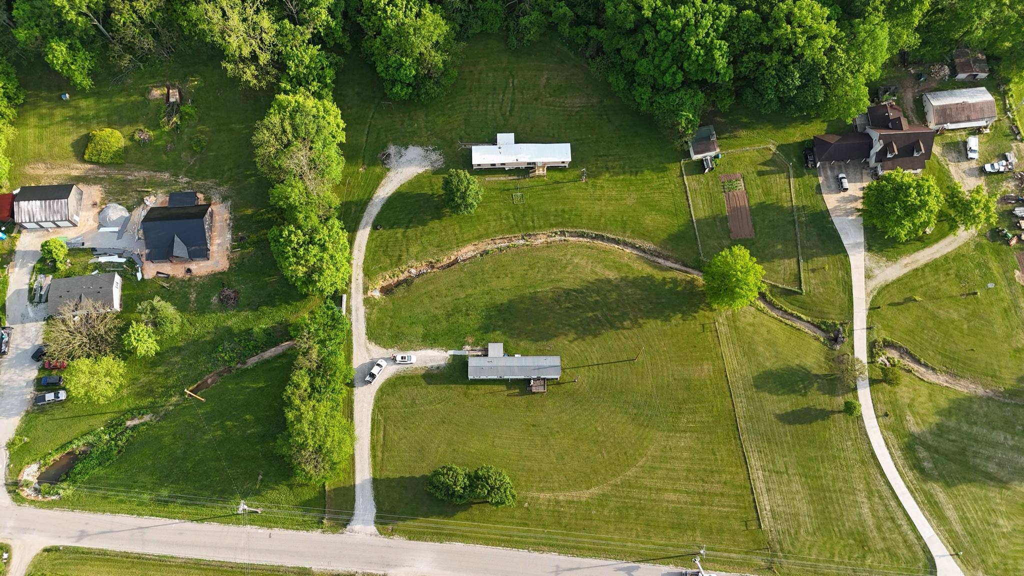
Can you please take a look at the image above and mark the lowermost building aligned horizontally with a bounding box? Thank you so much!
[468,343,561,380]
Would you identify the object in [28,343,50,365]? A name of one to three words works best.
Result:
car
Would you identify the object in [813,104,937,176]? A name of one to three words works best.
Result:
house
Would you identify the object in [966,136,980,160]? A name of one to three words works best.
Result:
vehicle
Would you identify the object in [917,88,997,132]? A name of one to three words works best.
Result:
barn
